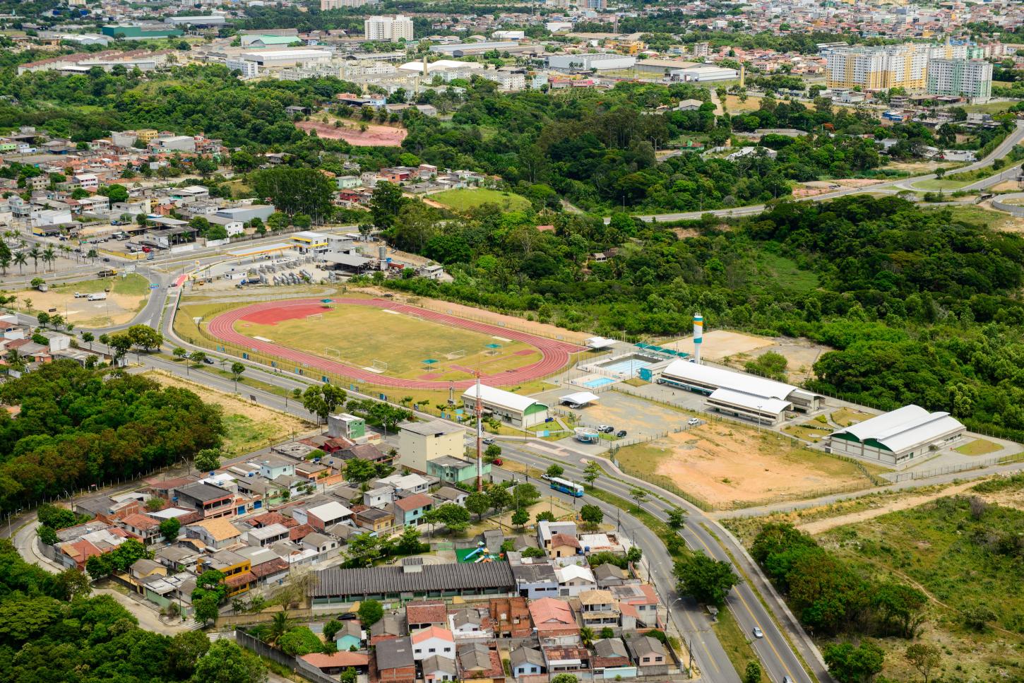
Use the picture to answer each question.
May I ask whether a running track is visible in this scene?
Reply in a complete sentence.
Yes, a running track can be made out from above.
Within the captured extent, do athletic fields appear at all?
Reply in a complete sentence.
Yes, I can see an athletic field in this picture.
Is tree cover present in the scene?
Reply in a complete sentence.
Yes, there is tree cover in the image.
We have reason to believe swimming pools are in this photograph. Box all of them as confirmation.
[582,354,657,380]
[569,373,621,387]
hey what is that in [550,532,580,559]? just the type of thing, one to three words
house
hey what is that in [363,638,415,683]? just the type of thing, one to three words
house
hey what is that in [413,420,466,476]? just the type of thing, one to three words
building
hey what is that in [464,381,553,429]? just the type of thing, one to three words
building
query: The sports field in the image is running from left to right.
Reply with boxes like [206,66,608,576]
[233,303,543,381]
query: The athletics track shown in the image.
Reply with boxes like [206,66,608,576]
[207,298,617,389]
